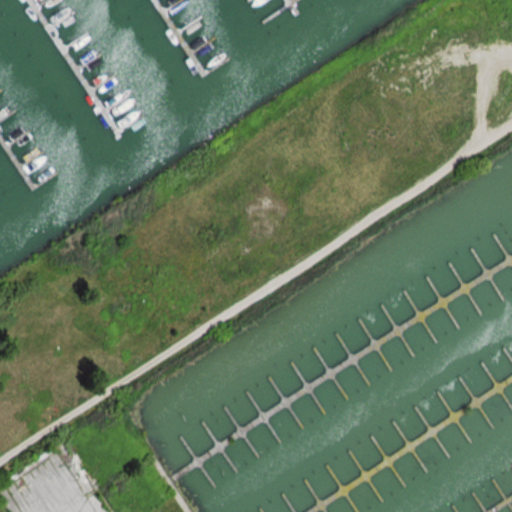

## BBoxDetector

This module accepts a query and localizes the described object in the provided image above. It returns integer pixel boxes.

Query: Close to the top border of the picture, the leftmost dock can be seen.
[28,0,134,140]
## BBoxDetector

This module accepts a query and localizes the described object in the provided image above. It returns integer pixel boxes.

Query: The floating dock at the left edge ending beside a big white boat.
[0,110,58,192]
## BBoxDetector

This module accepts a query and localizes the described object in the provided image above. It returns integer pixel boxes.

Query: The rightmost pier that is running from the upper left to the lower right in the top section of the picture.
[150,0,230,77]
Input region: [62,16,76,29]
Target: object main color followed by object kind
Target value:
white boat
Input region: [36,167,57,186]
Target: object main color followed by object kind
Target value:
white boat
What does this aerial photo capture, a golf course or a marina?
marina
